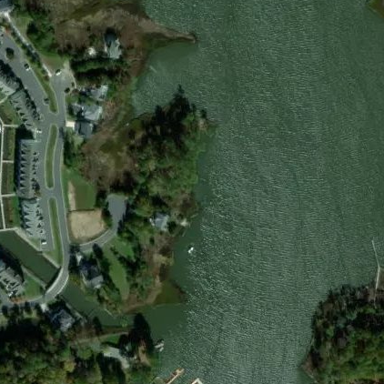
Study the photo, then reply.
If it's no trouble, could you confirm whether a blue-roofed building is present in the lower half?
No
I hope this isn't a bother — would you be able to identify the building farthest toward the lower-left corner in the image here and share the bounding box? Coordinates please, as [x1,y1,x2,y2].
[49,303,76,332]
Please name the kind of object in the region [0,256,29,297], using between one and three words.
building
